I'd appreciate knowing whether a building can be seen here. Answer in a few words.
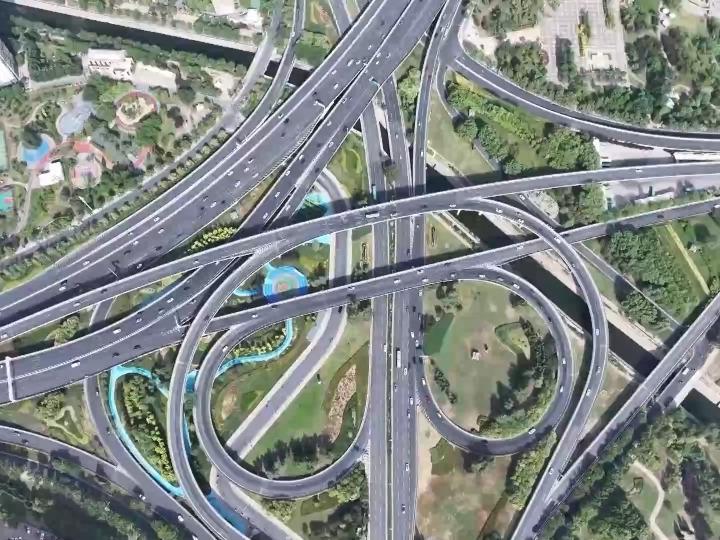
Yes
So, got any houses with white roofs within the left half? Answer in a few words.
Yes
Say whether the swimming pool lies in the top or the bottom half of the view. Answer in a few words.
top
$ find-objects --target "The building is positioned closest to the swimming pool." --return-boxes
[39,162,68,188]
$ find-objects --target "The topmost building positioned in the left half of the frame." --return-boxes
[231,7,263,33]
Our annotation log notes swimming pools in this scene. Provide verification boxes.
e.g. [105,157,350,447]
[20,134,52,168]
